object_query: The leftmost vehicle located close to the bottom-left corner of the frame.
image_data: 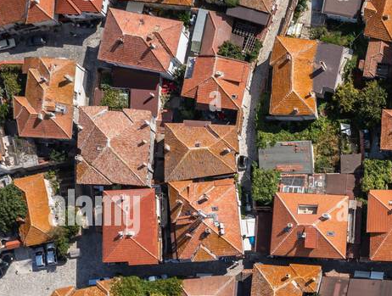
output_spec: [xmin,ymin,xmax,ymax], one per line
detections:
[0,257,14,278]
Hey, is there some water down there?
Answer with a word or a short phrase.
No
